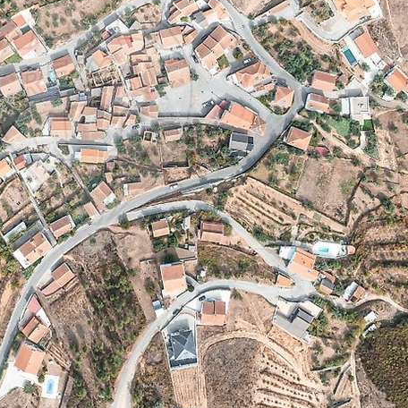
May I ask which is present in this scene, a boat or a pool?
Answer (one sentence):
The image shows a pool.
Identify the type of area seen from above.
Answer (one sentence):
What you see here is a residential area.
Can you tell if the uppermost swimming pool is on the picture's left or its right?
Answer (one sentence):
You can find the uppermost swimming pool on the right side of the picture.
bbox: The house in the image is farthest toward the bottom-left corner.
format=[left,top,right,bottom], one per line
[16,341,44,373]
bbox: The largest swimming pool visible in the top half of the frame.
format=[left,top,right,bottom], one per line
[339,46,359,68]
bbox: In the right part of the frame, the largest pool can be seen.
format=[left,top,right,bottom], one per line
[311,241,360,256]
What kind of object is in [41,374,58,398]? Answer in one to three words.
swimming pool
